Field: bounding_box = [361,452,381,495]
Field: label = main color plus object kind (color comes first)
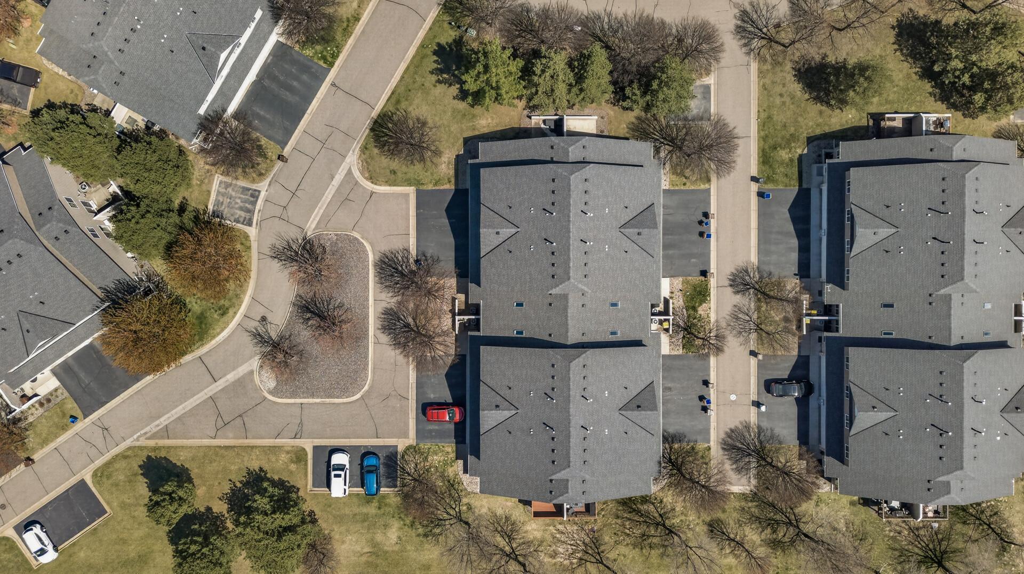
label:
blue car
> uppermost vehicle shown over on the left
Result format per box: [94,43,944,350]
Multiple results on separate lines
[0,65,40,92]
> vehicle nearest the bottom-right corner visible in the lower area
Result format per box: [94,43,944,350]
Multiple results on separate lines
[768,379,812,401]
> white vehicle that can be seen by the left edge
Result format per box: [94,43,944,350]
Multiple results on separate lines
[23,520,58,562]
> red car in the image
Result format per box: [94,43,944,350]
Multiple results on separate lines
[423,405,466,426]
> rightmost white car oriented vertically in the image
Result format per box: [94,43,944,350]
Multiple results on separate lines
[329,451,351,496]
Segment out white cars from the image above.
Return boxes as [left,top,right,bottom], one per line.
[329,451,351,496]
[23,520,58,562]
